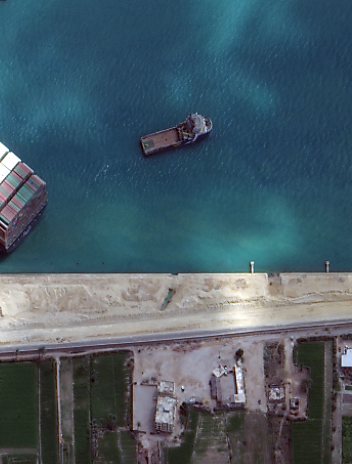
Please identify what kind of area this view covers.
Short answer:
port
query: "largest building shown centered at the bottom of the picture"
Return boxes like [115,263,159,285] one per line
[155,396,178,434]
